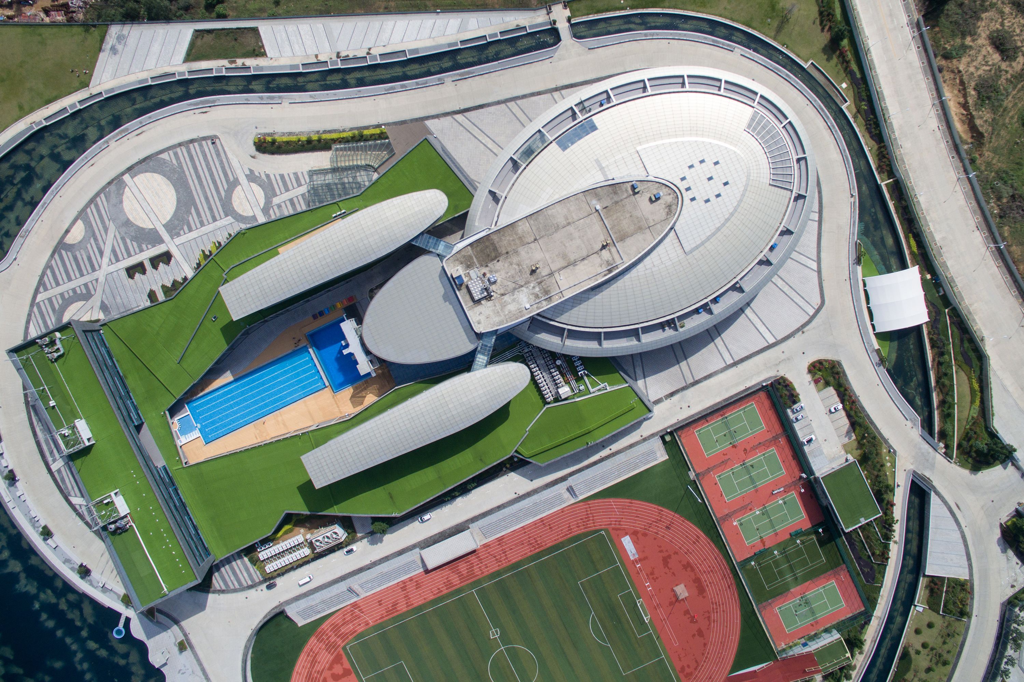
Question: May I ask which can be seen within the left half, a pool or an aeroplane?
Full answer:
There is a pool within the left half.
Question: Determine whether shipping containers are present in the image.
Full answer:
No, I can't see a single shipping container in this photo.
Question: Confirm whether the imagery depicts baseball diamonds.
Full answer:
No, there appears to be no baseball diamond in this shot.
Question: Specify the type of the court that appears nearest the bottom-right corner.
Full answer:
The court that appears nearest the bottom-right corner in the image is a tennis court.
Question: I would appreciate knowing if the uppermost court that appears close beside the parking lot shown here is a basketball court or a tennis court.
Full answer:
Looking closely, the uppermost court that appears close beside the parking lot is a tennis court.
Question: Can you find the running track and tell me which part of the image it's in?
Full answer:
The running track appears toward the bottom of the photo.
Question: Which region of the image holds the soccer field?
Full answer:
The soccer field appears toward the bottom of the photo.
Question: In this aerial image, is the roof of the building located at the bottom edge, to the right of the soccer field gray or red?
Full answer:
The roof of the building located at the bottom edge, to the right of the soccer field is red.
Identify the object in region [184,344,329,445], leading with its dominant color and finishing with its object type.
blue swimming pool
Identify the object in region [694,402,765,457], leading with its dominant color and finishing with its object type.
green tennis court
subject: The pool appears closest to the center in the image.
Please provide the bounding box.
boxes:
[305,315,376,395]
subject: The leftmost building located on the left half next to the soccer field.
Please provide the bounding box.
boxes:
[6,319,228,612]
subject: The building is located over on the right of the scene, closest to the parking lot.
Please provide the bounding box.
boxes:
[813,454,881,534]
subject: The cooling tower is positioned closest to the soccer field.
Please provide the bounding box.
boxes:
[311,523,349,552]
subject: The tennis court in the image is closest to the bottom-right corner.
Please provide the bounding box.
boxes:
[776,581,845,633]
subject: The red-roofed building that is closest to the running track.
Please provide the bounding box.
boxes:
[719,629,853,682]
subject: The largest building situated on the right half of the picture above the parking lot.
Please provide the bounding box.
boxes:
[463,65,815,357]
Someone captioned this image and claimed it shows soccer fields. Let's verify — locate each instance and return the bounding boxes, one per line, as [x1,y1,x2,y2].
[343,528,674,682]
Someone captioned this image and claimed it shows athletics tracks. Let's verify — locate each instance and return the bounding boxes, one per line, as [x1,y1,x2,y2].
[286,498,742,682]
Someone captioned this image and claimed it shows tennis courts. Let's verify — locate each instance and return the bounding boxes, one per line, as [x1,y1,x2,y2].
[715,448,785,502]
[694,402,765,457]
[776,581,845,633]
[756,537,825,590]
[735,492,805,546]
